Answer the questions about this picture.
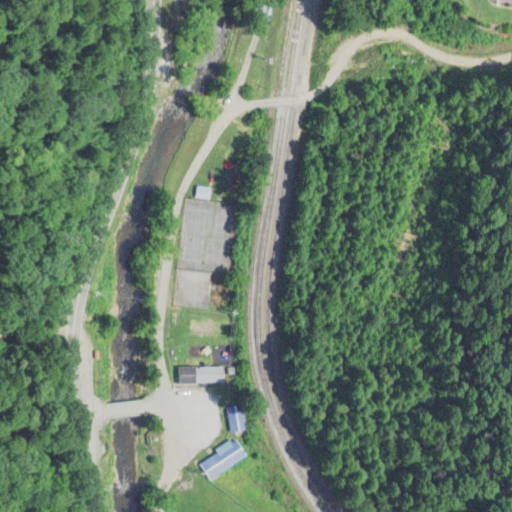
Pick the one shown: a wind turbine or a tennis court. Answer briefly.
tennis court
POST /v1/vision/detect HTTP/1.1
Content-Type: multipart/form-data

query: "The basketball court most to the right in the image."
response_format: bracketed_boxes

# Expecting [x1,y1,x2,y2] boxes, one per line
[204,201,236,272]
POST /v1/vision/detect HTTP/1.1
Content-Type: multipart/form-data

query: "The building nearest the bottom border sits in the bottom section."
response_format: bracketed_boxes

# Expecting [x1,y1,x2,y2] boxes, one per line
[199,440,248,480]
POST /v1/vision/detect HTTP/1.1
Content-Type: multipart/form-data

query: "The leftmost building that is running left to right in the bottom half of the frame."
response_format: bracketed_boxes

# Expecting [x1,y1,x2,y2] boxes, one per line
[178,366,224,386]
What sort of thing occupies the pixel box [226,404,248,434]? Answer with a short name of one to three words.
building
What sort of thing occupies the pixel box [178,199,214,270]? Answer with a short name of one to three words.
tennis court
